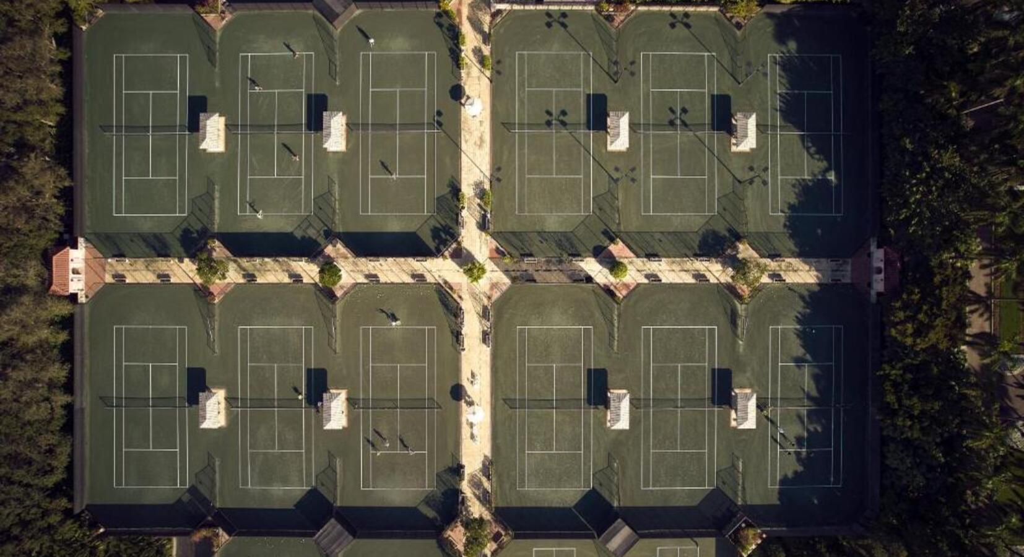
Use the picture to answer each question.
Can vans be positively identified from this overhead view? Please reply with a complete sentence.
No, I can't see a single van in this photo.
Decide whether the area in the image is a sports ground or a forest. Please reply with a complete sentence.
This image shows a sports ground.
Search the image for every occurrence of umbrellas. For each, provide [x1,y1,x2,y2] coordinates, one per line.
[466,405,483,422]
[465,97,481,114]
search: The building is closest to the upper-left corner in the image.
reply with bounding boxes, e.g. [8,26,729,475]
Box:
[199,112,226,153]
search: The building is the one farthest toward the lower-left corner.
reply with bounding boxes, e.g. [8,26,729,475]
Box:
[199,389,226,430]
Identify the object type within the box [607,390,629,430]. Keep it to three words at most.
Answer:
building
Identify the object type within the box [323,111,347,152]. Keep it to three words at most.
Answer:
building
